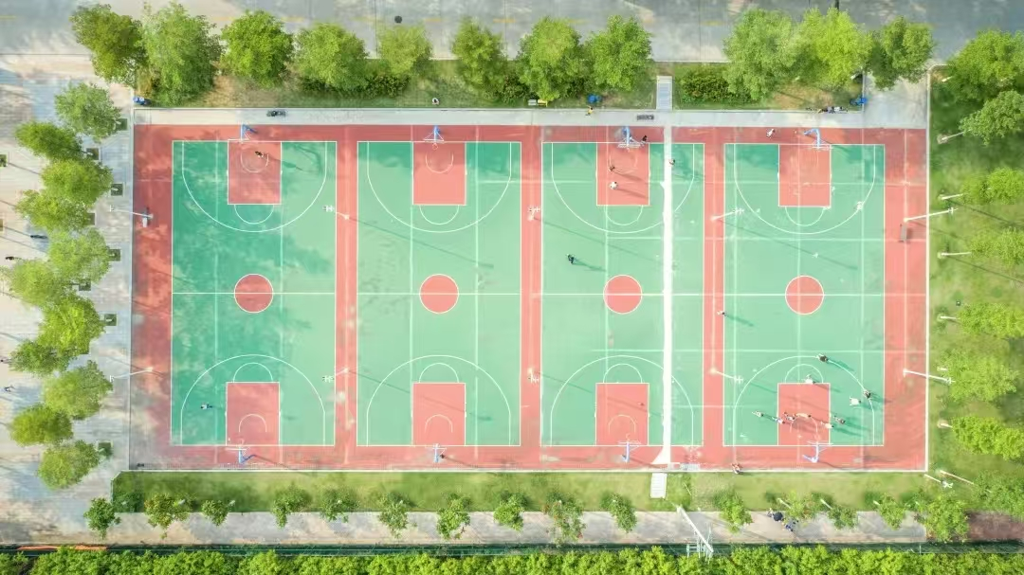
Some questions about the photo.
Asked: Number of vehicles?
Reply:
0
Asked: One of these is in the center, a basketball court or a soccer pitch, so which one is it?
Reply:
basketball court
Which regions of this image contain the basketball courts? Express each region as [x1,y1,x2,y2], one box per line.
[541,142,704,446]
[356,141,521,446]
[723,143,885,446]
[170,140,337,446]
